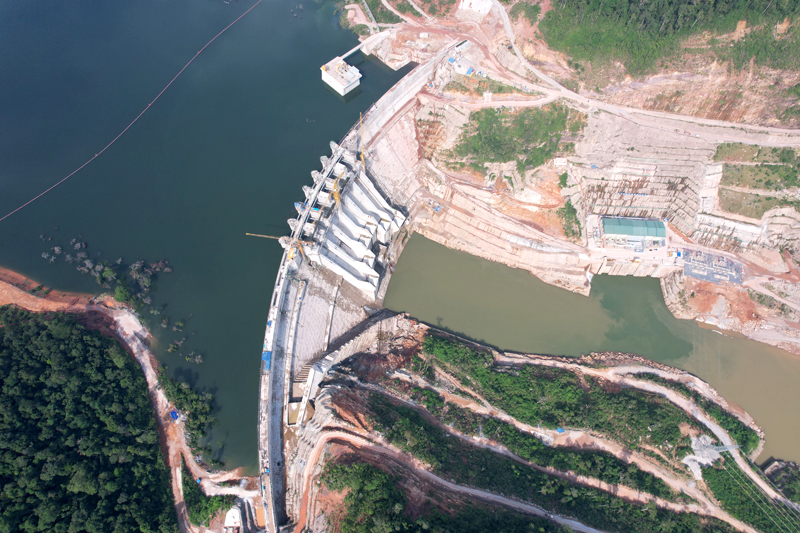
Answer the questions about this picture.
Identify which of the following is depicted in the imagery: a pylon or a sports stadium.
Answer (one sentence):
Visible in the photo is a pylon.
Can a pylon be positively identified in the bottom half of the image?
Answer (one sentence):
Yes, a pylon appears in the bottom half of the image.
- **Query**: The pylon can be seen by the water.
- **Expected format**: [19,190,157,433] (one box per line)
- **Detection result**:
[693,265,772,513]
